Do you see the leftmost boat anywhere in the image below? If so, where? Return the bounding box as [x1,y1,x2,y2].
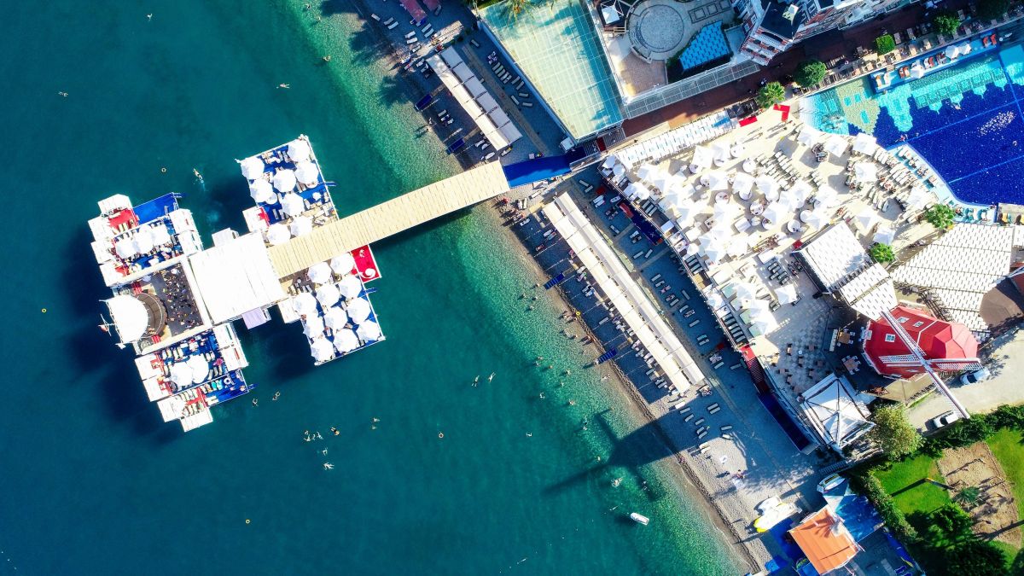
[629,511,649,525]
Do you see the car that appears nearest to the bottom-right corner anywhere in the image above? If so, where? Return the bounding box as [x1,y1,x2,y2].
[934,411,959,427]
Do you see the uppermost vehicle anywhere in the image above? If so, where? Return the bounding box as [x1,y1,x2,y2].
[963,368,988,384]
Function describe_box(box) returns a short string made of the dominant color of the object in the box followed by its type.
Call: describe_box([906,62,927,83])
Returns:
white umbrella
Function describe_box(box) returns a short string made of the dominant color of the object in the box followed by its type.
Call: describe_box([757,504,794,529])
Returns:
white boat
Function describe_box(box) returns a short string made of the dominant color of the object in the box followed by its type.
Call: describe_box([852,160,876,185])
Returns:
white umbrella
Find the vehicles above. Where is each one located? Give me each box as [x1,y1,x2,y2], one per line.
[934,411,959,427]
[963,368,988,384]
